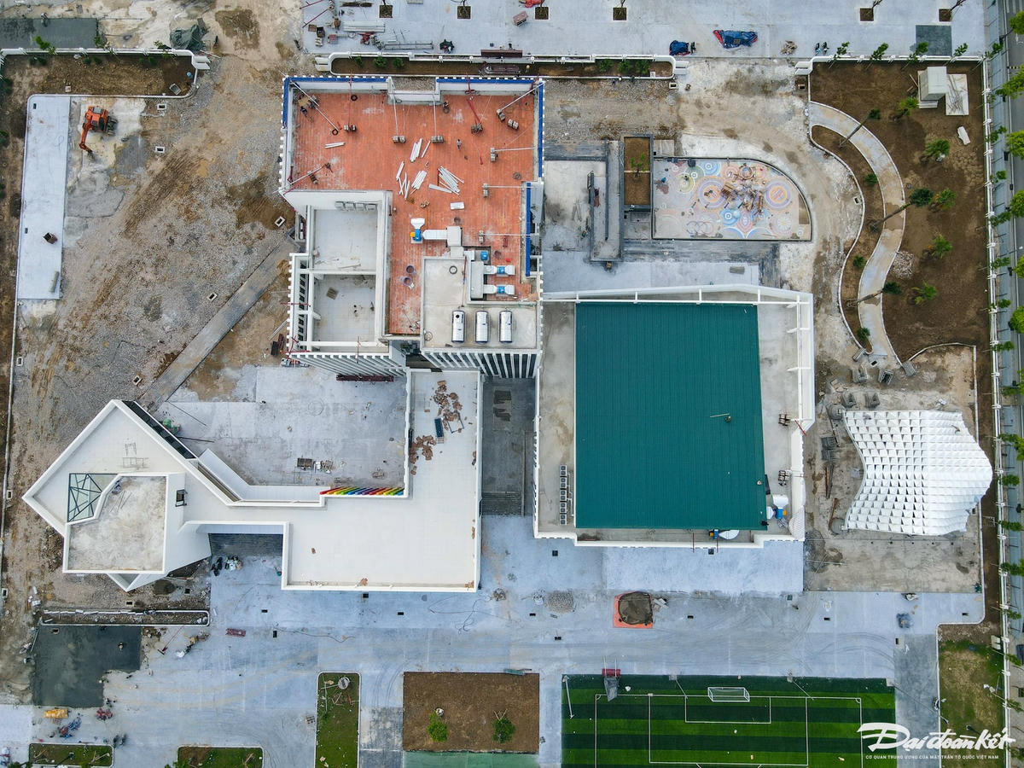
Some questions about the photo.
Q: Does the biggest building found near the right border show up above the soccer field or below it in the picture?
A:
above it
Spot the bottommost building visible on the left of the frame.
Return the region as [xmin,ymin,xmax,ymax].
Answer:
[24,371,485,590]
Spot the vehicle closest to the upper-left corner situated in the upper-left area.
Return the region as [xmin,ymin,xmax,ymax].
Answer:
[80,106,117,159]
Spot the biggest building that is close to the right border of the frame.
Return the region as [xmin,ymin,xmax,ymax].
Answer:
[838,409,992,535]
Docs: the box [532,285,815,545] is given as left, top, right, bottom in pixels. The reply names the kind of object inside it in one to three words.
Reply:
building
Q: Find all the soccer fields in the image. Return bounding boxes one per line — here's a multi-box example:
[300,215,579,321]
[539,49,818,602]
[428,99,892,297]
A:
[561,675,898,768]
